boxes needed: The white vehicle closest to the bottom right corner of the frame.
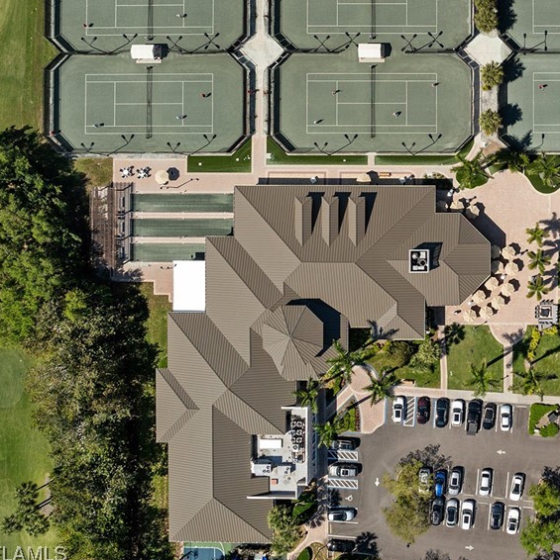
[507,509,520,537]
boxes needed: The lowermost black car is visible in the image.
[327,540,353,556]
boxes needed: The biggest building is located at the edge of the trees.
[155,185,491,543]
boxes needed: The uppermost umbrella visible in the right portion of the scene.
[358,171,372,185]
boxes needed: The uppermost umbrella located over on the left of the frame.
[154,169,169,184]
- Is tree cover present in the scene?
Yes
